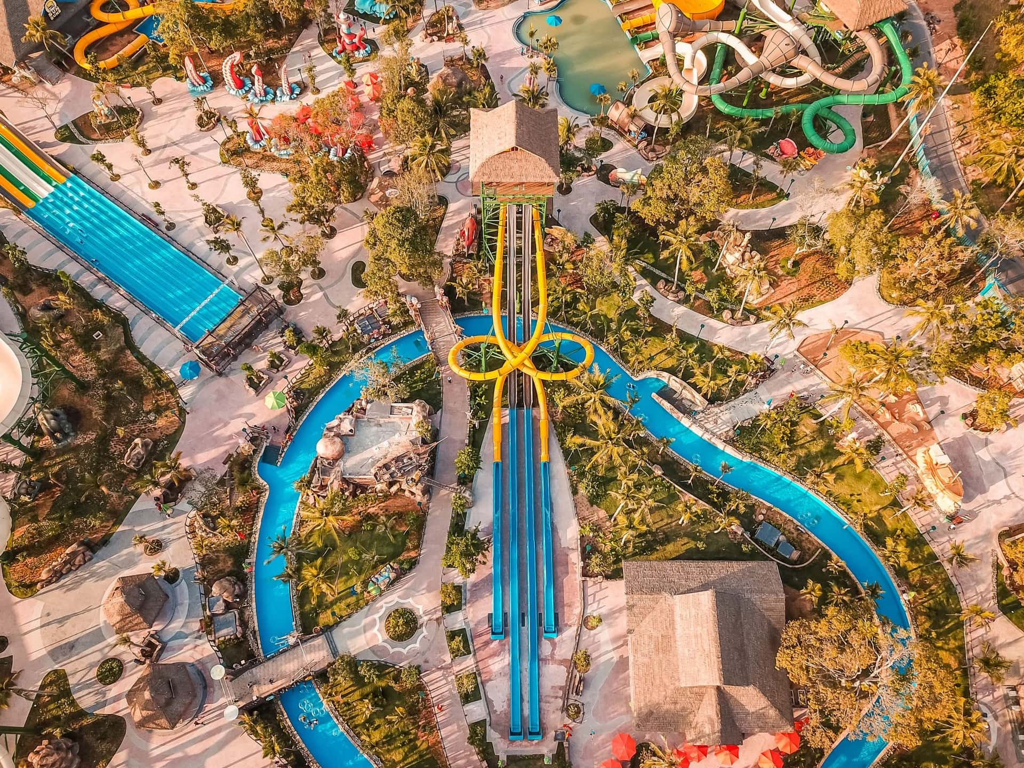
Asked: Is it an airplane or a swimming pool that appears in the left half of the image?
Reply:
swimming pool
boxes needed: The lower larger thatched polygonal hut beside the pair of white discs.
[124,657,208,735]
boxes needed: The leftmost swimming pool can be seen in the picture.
[133,15,170,41]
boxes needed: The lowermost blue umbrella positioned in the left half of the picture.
[176,357,203,380]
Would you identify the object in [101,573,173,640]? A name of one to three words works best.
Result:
shed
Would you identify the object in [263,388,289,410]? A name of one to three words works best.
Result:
umbrella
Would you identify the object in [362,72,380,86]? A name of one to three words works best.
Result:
umbrella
